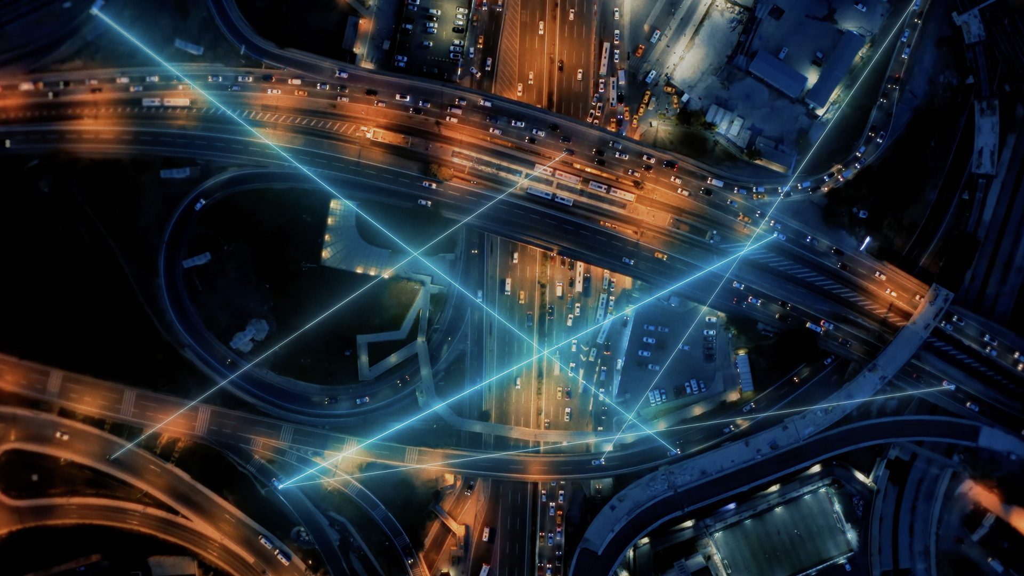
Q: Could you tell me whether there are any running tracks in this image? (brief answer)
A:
No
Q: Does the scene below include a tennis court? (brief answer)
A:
No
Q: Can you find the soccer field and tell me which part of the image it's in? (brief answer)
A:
bottom right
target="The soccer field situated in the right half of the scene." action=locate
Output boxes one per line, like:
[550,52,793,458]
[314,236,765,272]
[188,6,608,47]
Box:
[713,492,855,576]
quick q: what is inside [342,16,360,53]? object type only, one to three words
shed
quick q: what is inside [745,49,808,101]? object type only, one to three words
building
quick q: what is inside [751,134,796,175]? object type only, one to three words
building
